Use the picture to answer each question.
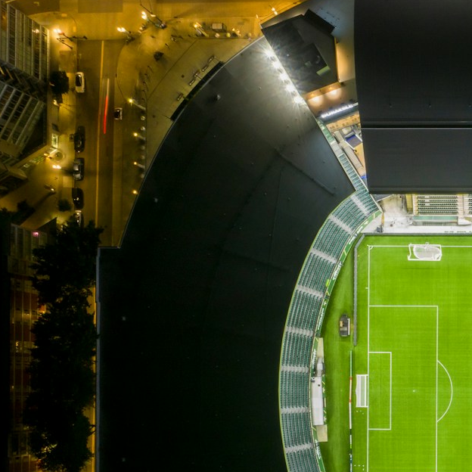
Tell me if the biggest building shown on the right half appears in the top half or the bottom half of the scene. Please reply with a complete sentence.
The biggest building shown on the right half sits in the top half of the picture.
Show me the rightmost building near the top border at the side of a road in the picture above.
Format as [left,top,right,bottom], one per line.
[263,9,353,98]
